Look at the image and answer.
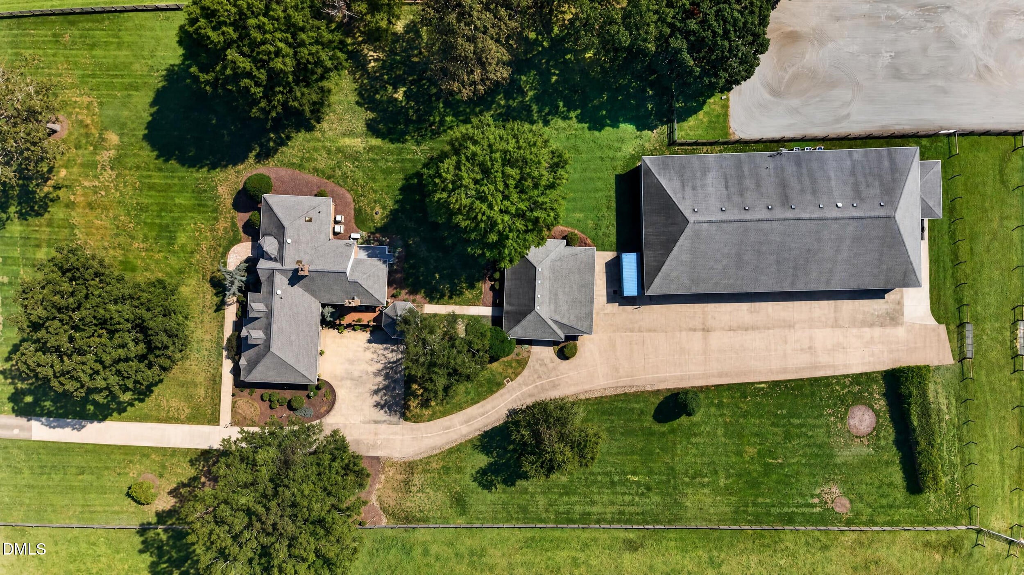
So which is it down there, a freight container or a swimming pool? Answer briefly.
freight container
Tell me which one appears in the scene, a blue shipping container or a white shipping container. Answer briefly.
blue shipping container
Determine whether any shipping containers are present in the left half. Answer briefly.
No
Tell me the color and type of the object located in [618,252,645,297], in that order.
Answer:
blue shipping container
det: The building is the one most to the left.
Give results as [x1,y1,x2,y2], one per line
[239,194,394,384]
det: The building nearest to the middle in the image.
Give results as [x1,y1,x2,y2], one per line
[503,239,597,341]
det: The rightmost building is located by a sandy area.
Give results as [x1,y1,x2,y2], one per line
[639,146,943,295]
